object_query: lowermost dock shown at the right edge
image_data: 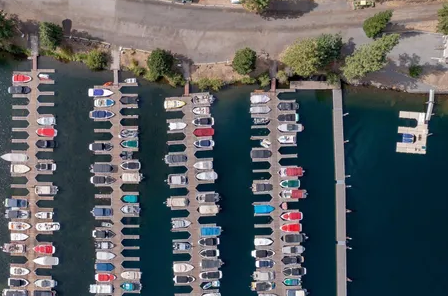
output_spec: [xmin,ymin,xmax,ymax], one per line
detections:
[395,111,429,154]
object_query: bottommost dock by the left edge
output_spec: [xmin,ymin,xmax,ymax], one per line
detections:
[9,69,56,296]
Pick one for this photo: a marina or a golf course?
marina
